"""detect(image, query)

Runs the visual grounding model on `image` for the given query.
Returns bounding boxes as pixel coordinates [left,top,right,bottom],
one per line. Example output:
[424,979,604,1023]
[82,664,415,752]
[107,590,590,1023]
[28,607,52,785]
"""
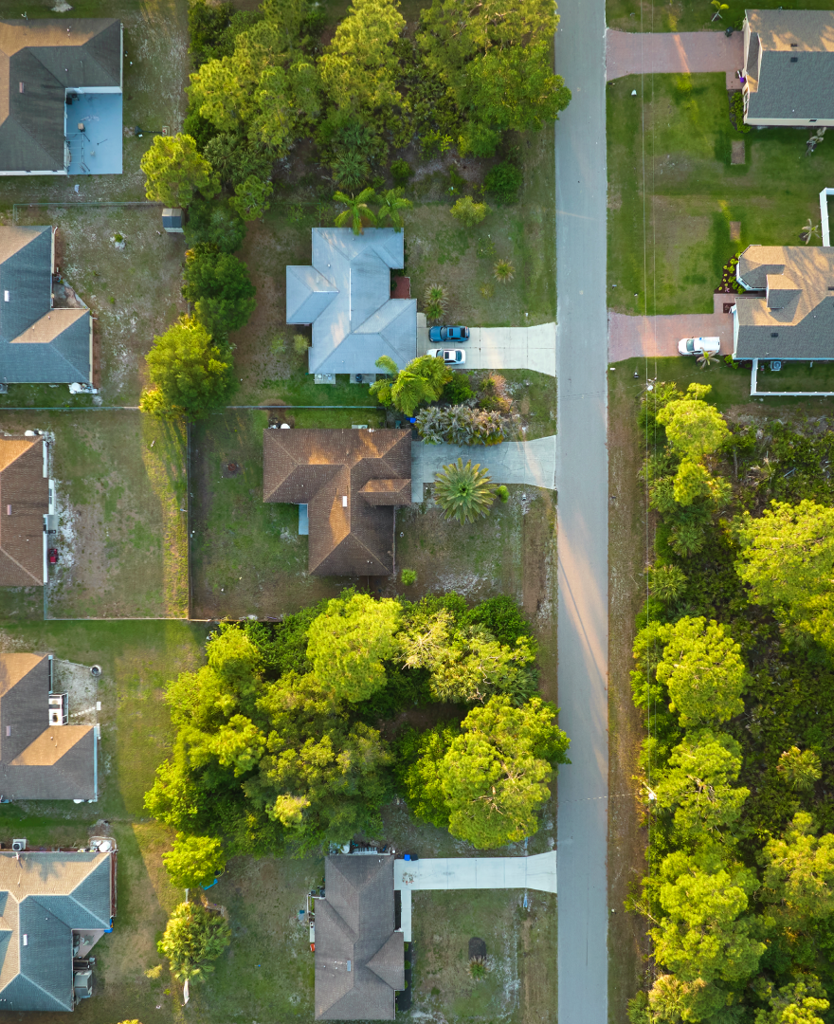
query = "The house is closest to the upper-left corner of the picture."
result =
[0,18,124,175]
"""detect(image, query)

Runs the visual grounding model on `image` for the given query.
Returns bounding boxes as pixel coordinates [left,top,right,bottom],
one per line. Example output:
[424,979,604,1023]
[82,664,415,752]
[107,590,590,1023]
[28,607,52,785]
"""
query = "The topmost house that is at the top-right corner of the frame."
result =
[740,7,834,124]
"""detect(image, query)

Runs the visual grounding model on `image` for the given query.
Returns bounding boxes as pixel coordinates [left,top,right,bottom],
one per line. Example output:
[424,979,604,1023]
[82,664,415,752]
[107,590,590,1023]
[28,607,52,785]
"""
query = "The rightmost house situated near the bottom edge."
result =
[314,851,405,1021]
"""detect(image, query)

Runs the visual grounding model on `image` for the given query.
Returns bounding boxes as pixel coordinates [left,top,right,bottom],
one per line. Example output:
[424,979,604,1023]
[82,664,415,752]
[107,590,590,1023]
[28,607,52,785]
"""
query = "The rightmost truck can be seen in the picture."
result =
[678,335,722,356]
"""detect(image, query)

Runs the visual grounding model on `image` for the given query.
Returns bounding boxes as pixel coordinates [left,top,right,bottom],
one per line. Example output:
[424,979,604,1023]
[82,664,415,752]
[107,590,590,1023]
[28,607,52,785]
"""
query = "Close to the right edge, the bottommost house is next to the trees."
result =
[729,244,834,358]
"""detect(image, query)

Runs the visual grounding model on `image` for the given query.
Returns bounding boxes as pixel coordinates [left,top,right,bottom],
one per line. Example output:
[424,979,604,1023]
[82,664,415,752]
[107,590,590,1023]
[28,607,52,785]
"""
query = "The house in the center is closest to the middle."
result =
[262,427,412,576]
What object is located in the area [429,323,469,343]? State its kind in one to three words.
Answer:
car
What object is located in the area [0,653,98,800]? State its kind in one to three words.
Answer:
house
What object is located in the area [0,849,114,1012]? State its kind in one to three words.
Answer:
house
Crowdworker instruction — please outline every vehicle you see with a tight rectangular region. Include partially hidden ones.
[678,335,722,356]
[429,323,469,343]
[427,346,465,365]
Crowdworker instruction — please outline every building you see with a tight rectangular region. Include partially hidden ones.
[314,851,405,1021]
[0,653,98,800]
[0,18,124,175]
[729,244,834,358]
[0,225,94,383]
[286,227,417,374]
[262,427,412,576]
[0,849,114,1012]
[157,206,181,229]
[740,7,834,124]
[0,436,53,586]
